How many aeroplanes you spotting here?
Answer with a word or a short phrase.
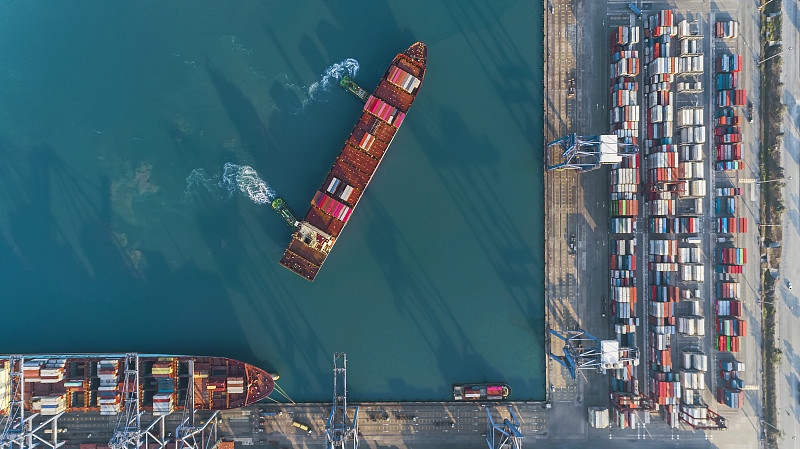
zero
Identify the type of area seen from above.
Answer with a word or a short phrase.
port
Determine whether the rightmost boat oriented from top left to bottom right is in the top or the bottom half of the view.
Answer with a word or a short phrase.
top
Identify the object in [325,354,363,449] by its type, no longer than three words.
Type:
container crane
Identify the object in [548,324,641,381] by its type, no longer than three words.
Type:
container crane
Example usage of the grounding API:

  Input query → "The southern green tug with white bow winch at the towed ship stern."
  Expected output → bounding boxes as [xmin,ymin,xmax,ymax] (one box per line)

[270,198,299,230]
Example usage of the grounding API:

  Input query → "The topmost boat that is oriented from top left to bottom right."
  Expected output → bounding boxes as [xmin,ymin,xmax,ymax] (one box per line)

[338,76,370,104]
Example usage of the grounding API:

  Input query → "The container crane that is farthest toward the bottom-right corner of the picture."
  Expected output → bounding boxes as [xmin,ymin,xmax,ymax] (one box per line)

[677,406,727,431]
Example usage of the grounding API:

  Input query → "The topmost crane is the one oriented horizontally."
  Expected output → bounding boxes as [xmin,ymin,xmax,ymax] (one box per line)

[547,132,640,174]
